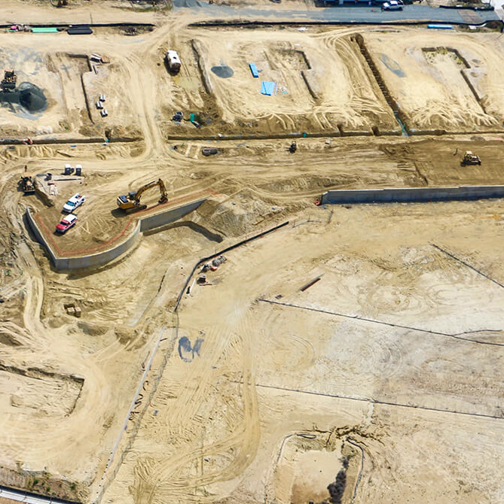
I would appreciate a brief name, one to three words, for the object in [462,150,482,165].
work vehicle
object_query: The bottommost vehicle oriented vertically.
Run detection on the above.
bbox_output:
[21,169,36,195]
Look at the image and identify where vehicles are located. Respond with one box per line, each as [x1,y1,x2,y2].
[118,176,165,216]
[165,51,182,71]
[54,213,78,231]
[381,1,402,10]
[21,169,36,195]
[62,196,85,211]
[393,0,414,5]
[3,67,14,89]
[462,150,482,165]
[288,139,298,151]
